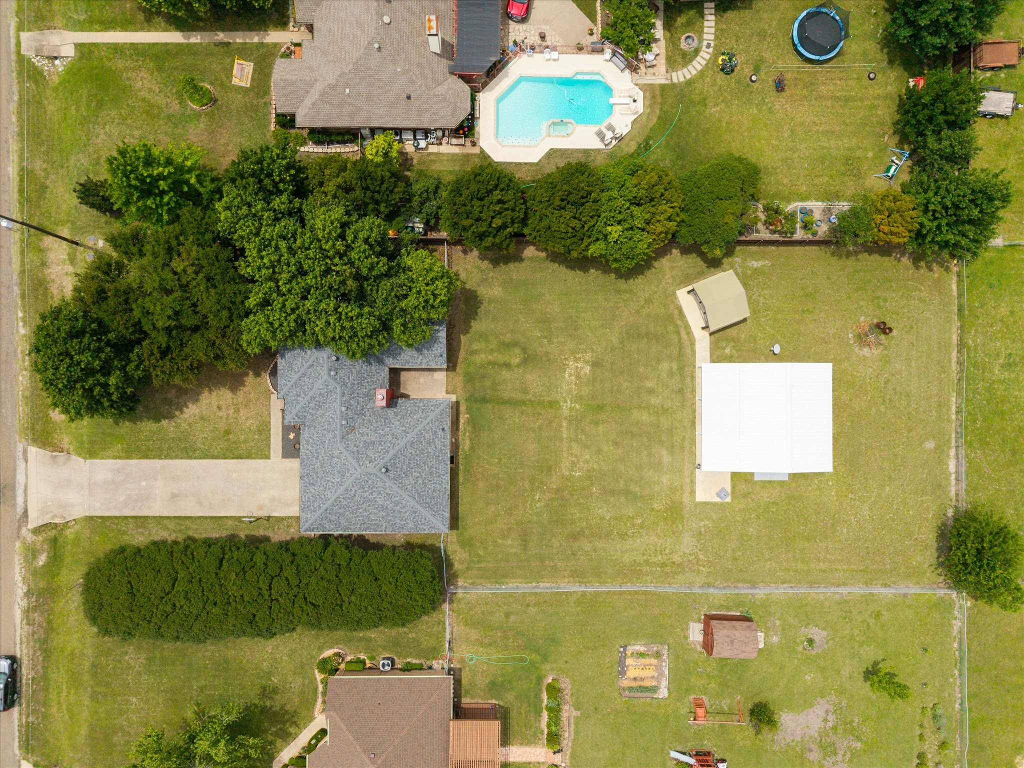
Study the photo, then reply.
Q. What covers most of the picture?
grass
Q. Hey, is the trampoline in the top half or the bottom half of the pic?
top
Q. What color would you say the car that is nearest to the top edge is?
red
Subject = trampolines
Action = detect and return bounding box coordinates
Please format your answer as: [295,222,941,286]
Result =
[789,0,860,70]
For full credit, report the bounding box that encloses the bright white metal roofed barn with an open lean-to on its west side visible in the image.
[694,363,832,473]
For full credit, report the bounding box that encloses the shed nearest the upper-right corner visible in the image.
[683,270,750,334]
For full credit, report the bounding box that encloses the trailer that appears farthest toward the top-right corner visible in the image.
[980,38,1024,72]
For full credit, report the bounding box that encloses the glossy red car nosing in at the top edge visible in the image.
[504,0,530,22]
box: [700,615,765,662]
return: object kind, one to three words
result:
shed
